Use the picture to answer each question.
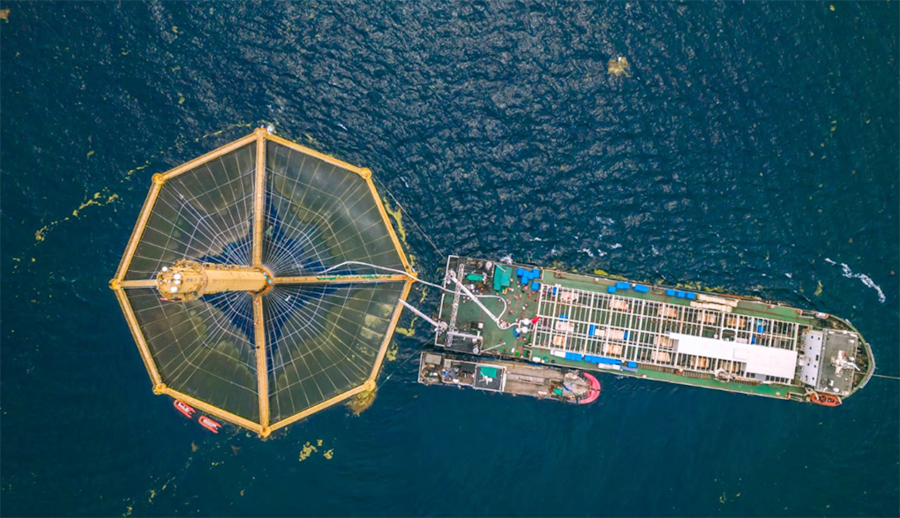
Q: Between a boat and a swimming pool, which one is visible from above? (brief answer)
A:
boat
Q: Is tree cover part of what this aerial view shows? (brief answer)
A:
No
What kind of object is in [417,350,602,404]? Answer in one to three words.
boat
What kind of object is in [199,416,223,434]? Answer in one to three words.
boat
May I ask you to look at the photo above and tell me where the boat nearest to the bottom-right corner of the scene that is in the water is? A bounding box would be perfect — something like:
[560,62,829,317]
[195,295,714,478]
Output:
[809,393,843,407]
